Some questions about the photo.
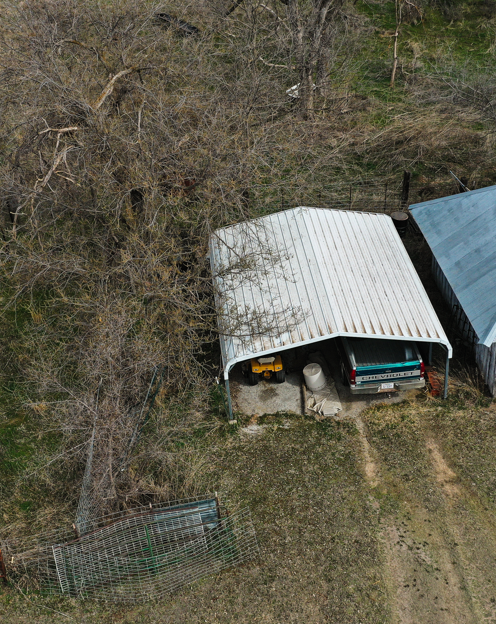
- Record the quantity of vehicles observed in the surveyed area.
2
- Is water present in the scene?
No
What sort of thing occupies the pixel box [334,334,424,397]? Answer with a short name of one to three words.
truck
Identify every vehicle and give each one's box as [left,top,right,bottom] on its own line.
[334,334,424,397]
[247,354,286,385]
